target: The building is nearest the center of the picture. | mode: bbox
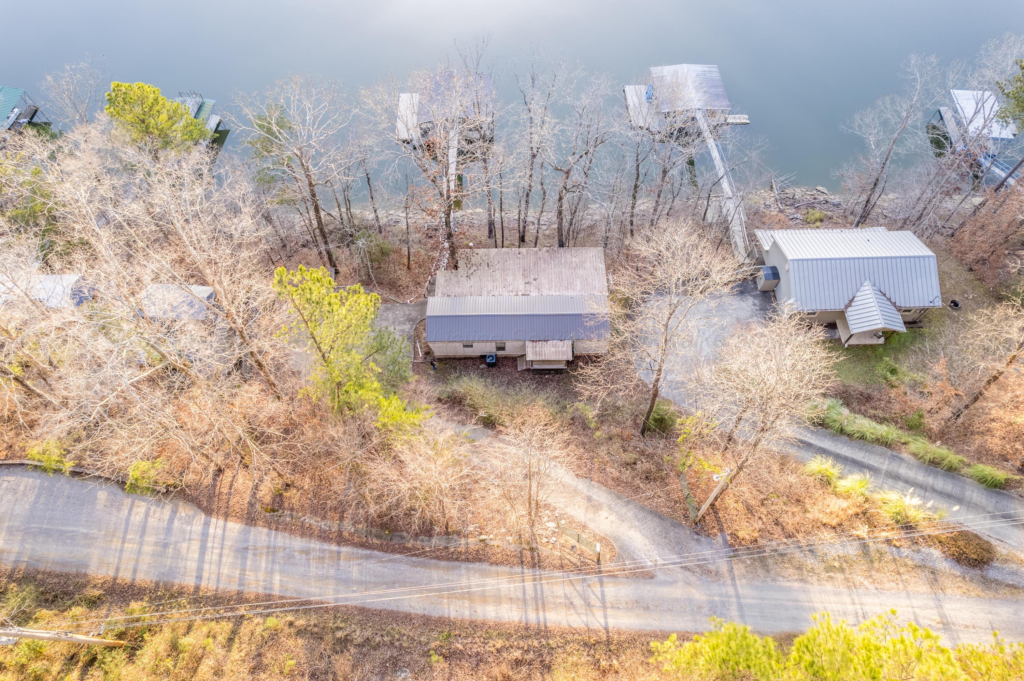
[421,247,611,373]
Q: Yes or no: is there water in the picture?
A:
Yes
